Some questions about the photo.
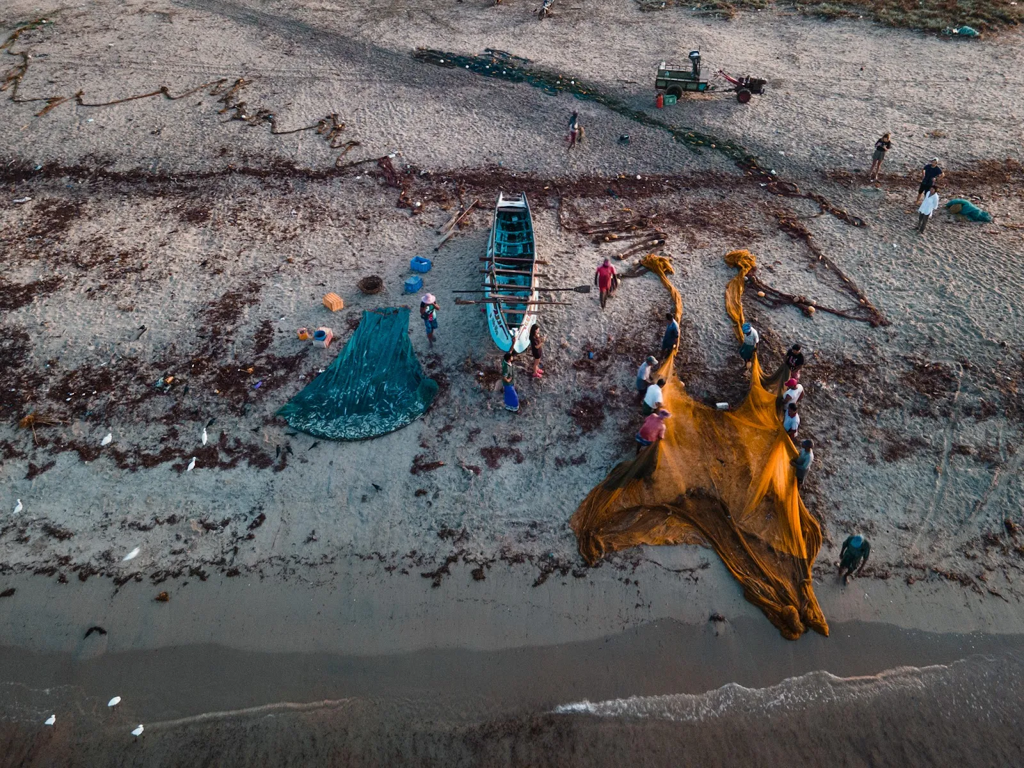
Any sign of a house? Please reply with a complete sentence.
No, this view has no house in it.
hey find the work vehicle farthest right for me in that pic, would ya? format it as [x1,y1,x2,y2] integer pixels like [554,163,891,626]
[714,70,769,103]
